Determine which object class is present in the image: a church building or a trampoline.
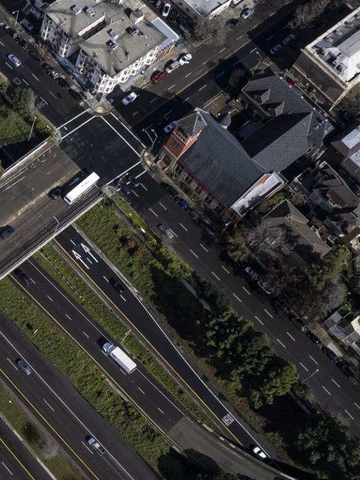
church building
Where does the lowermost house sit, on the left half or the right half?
right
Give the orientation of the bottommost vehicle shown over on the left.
at an angle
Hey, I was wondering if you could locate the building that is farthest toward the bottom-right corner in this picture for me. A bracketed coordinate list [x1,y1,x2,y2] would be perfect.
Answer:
[315,311,360,351]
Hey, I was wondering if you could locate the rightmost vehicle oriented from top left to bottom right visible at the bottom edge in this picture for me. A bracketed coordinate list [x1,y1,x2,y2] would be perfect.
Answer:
[251,443,268,461]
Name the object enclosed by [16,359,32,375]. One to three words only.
car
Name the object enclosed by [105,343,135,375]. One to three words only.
truck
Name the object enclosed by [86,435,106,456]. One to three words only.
vehicle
